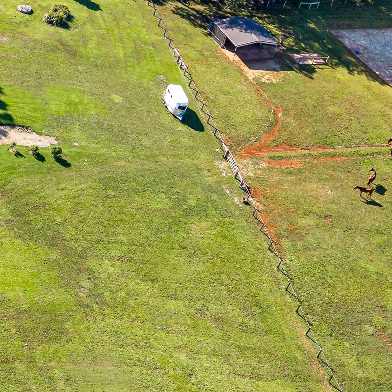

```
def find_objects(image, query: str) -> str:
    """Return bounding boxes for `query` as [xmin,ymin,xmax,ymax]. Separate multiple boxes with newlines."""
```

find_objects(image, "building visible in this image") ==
[207,18,278,59]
